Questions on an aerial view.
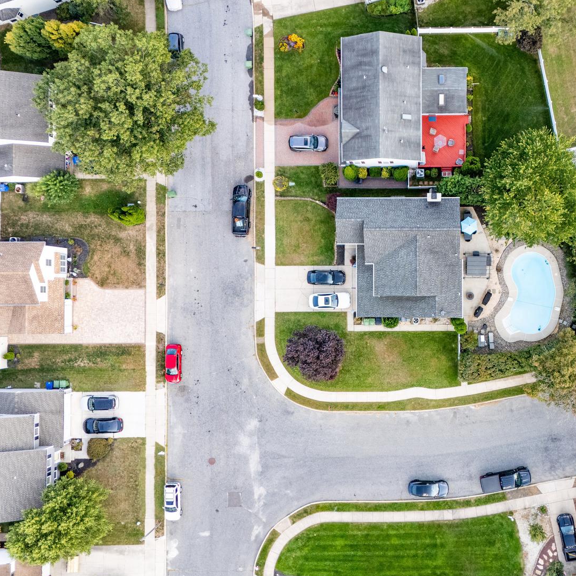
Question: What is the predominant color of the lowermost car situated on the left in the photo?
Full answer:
The lowermost car situated on the left is white.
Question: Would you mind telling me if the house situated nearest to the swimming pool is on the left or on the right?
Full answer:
The house situated nearest to the swimming pool sits on the right side.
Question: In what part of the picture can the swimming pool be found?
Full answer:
The swimming pool is located in the right region of the scene.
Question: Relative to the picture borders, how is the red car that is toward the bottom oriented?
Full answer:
In this picture, the red car that is toward the bottom lies vertically.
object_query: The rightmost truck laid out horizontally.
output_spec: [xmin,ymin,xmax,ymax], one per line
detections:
[479,467,532,492]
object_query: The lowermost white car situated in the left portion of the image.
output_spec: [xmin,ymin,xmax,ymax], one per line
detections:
[162,481,183,520]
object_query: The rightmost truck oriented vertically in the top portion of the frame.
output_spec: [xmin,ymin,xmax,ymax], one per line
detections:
[230,185,251,236]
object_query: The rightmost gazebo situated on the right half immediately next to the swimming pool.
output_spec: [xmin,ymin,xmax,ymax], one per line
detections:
[462,252,492,281]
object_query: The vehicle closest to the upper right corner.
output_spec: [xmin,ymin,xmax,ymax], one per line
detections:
[288,134,329,152]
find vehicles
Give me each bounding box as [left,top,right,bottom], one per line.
[288,134,329,152]
[557,512,576,563]
[162,481,183,520]
[166,0,184,13]
[408,479,448,499]
[306,268,346,287]
[84,416,125,436]
[308,291,350,310]
[163,344,183,383]
[230,185,251,236]
[166,31,186,69]
[479,467,532,492]
[84,394,121,413]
